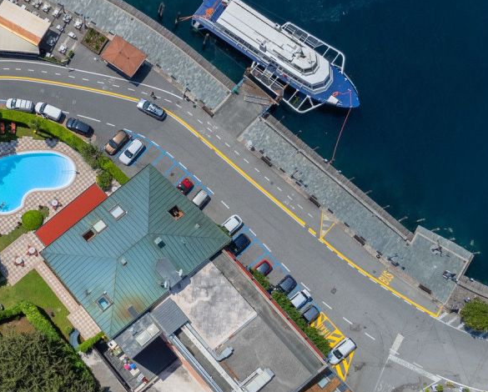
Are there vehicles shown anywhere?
Yes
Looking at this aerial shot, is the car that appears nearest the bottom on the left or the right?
right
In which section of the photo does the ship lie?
top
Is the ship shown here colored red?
No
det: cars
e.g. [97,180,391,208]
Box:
[119,138,145,165]
[104,129,130,154]
[136,98,166,121]
[226,231,251,256]
[220,211,244,236]
[191,188,211,207]
[257,256,274,274]
[176,174,196,195]
[5,97,36,112]
[325,337,355,365]
[65,117,92,138]
[300,300,323,323]
[34,101,65,122]
[270,270,298,294]
[287,286,314,310]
